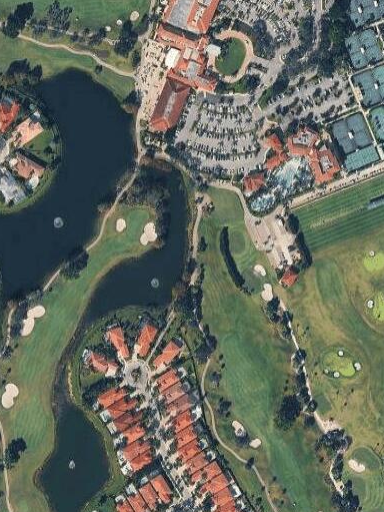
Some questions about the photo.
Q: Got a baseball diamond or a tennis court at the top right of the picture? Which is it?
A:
tennis court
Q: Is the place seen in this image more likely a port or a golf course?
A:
golf course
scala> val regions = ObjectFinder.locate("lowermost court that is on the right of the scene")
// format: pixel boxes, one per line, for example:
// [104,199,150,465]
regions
[343,147,380,171]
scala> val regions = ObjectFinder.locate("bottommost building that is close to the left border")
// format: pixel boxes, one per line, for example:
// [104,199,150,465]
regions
[0,171,26,204]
